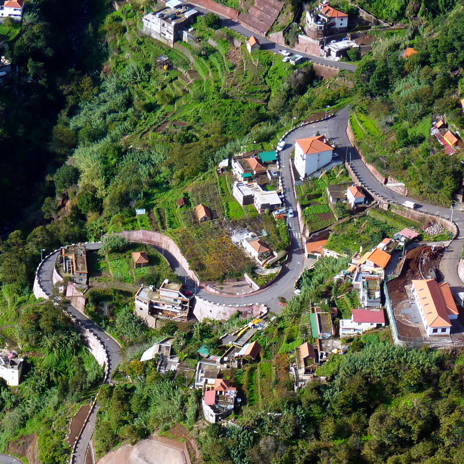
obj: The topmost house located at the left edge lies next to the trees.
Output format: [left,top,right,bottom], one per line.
[0,0,26,24]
